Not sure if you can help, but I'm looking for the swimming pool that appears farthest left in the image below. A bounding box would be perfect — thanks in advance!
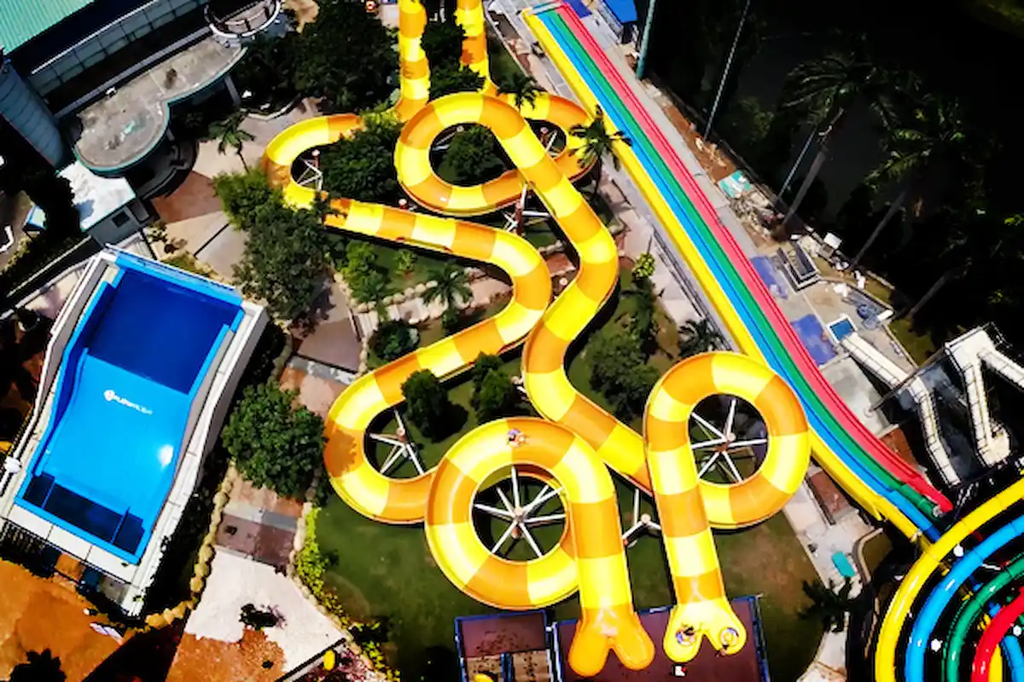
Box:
[0,245,272,614]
